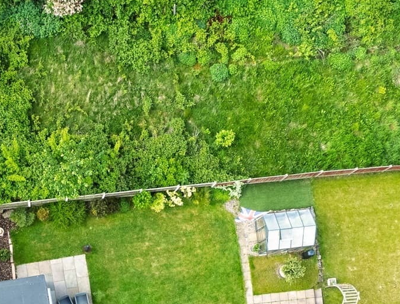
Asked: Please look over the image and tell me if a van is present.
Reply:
No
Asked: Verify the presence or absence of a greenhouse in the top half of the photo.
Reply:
No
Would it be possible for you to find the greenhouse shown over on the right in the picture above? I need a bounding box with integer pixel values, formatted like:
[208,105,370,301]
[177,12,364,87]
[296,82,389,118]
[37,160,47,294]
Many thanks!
[257,209,316,255]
